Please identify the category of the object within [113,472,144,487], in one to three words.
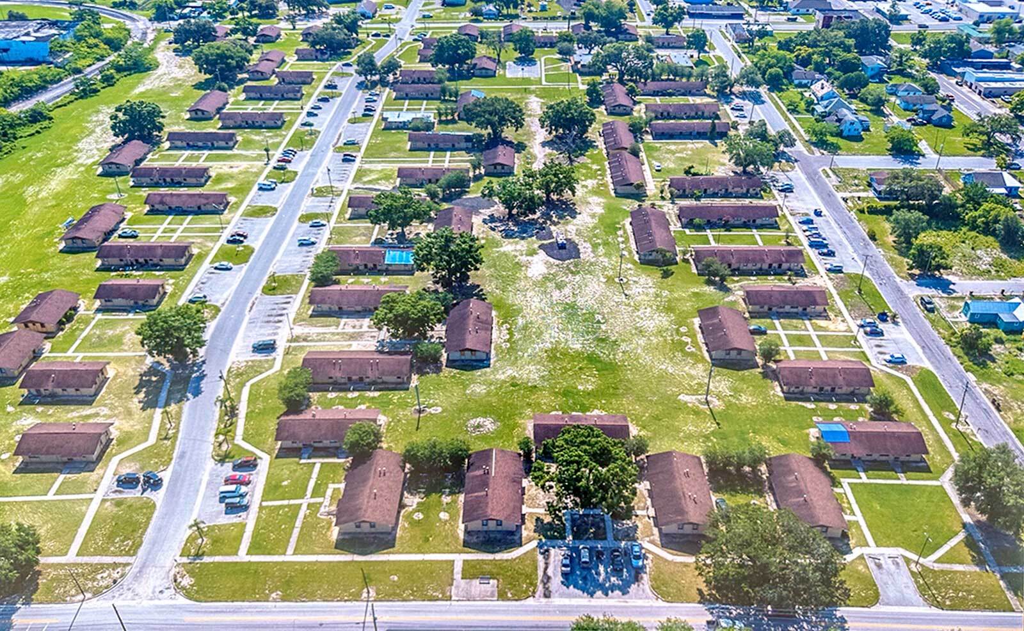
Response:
car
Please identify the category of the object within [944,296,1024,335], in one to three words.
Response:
house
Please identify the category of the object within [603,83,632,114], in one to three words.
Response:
building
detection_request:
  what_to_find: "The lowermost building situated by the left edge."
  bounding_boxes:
[13,422,114,469]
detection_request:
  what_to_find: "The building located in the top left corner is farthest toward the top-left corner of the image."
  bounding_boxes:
[0,20,75,60]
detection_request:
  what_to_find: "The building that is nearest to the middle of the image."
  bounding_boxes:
[444,299,495,361]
